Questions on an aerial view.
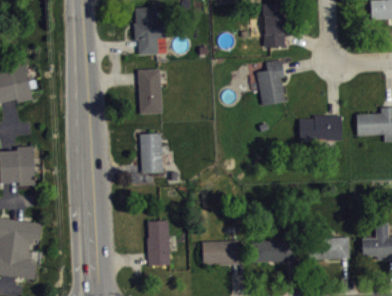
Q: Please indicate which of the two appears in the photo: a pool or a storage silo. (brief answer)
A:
pool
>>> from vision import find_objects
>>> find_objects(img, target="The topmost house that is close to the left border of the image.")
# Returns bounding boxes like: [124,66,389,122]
[0,64,34,106]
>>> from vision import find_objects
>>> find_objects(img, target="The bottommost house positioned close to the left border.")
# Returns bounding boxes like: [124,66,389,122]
[0,216,42,280]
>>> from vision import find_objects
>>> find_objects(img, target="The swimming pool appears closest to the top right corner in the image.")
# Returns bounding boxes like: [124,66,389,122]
[216,32,234,50]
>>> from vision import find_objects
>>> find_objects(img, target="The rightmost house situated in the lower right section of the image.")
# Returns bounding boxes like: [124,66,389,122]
[362,222,392,261]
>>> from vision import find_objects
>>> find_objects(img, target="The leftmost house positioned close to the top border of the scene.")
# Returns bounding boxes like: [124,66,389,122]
[134,8,166,54]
